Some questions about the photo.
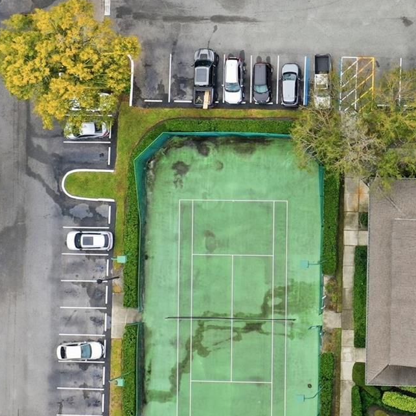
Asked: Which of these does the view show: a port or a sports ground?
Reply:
sports ground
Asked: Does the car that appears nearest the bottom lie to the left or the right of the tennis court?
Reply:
left of it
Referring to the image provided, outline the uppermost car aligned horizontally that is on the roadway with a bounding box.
[64,118,111,142]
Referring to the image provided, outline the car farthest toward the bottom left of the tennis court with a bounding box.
[56,340,105,363]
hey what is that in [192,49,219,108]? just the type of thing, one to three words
truck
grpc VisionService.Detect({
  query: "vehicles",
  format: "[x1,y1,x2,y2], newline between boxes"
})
[221,57,245,105]
[310,54,333,110]
[192,49,219,108]
[56,340,105,363]
[250,62,273,105]
[66,229,114,253]
[64,118,111,142]
[278,63,302,107]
